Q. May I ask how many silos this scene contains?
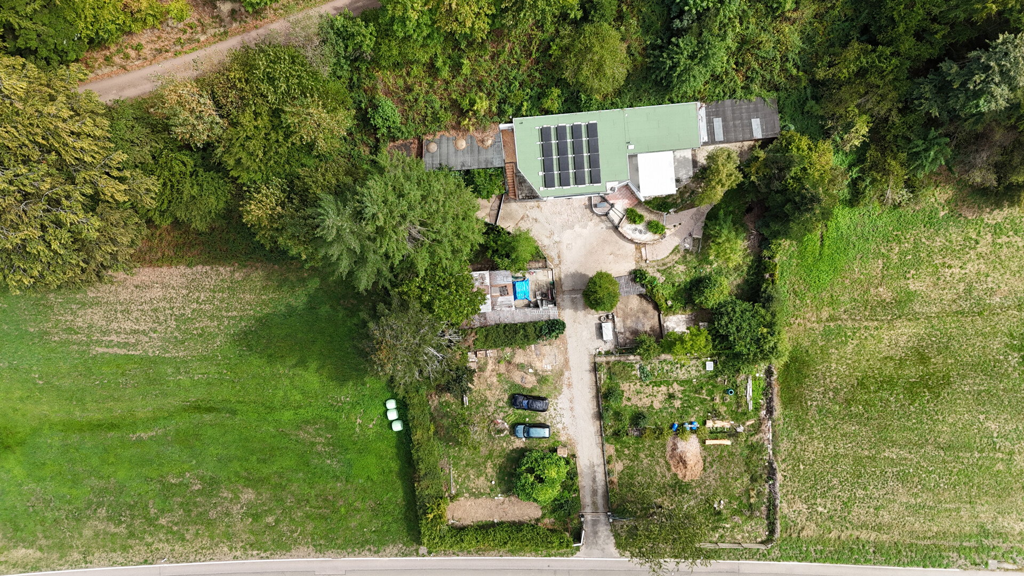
0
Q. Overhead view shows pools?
No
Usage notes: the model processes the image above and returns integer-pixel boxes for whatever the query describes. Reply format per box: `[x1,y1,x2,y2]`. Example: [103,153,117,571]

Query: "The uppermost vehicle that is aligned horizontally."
[511,394,548,411]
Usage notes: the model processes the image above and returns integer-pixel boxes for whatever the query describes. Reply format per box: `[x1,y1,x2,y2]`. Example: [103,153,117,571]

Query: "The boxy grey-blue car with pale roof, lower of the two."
[515,423,550,440]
